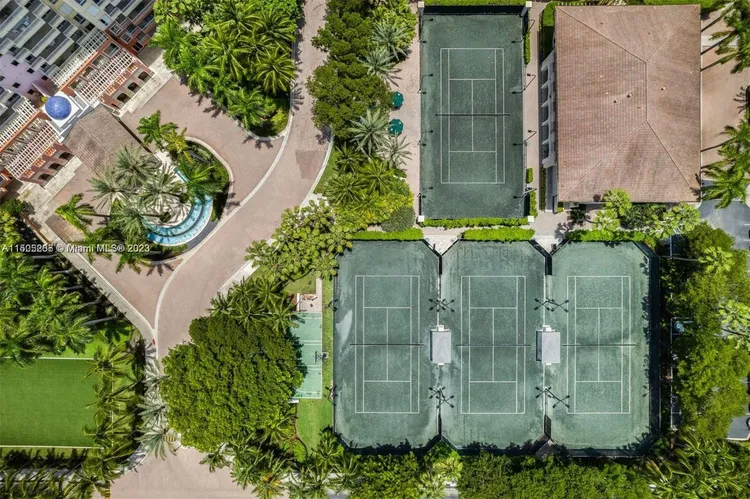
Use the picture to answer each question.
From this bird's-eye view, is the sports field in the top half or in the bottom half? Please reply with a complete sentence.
The sports field is in the bottom half of the image.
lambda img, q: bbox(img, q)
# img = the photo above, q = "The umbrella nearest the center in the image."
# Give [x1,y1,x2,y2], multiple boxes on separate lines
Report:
[389,119,404,135]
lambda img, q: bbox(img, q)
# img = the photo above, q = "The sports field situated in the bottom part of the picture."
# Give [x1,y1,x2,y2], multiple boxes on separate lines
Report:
[0,358,112,448]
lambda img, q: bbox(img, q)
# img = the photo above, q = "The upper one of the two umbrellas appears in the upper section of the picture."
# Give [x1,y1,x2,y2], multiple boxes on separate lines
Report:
[390,94,405,108]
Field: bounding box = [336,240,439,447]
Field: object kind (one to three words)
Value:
tennis court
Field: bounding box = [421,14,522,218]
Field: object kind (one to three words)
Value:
tennis court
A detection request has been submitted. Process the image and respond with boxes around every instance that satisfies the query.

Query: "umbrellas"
[389,119,404,135]
[390,94,405,108]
